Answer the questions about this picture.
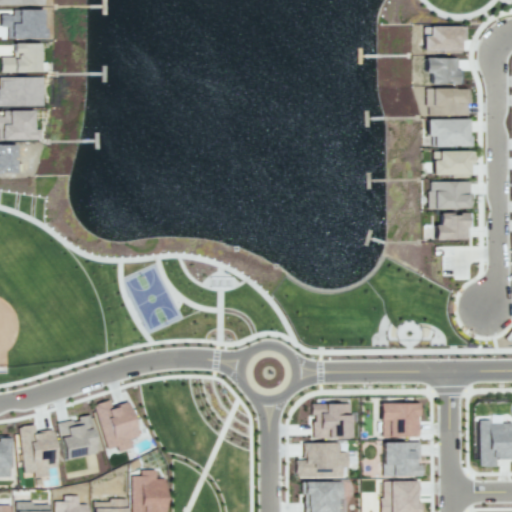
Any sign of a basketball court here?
Yes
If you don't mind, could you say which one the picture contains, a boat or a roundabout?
roundabout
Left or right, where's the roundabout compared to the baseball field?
right of it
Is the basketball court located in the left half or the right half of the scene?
left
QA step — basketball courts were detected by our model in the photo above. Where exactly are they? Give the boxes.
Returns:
[124,264,181,334]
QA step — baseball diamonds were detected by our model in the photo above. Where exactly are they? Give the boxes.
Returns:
[0,214,106,381]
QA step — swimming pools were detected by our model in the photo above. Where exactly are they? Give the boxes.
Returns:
[48,470,60,487]
[136,439,152,454]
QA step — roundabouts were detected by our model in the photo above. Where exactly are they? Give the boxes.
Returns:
[236,340,302,405]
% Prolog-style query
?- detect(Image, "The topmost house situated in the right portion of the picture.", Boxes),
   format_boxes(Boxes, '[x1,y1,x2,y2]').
[426,26,470,54]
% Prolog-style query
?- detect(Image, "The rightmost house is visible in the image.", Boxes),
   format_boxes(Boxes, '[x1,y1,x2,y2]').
[481,421,512,468]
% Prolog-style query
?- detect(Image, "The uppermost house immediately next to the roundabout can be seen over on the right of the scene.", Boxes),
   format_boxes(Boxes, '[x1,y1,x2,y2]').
[313,404,356,440]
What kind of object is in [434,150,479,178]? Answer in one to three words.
house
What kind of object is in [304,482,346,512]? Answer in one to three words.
house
